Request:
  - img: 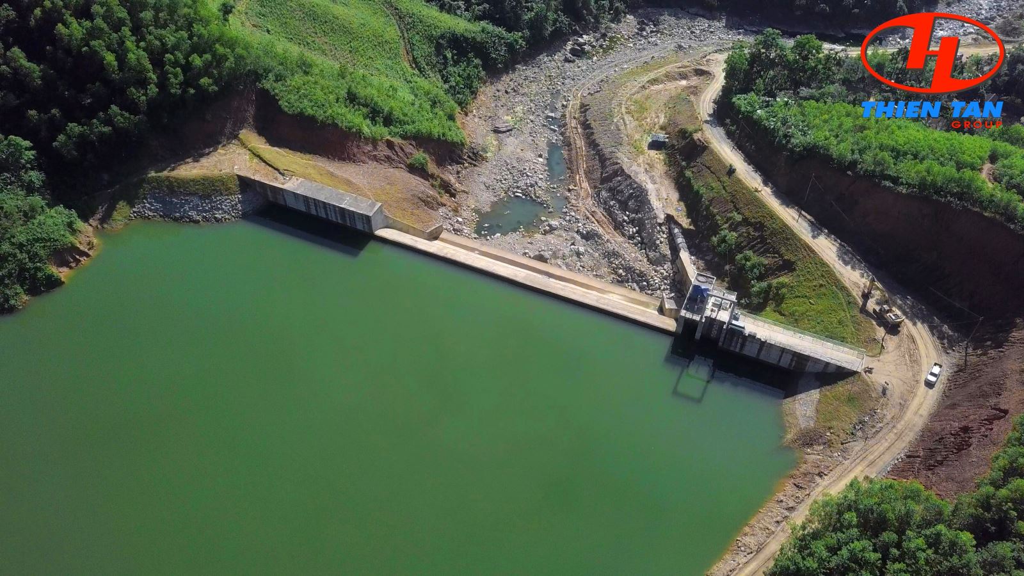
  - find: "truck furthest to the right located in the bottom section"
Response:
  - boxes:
[925,359,946,384]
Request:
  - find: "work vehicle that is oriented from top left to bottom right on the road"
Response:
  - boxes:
[863,283,913,328]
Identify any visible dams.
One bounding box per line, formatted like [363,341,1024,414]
[373,225,680,335]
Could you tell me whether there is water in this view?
Yes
